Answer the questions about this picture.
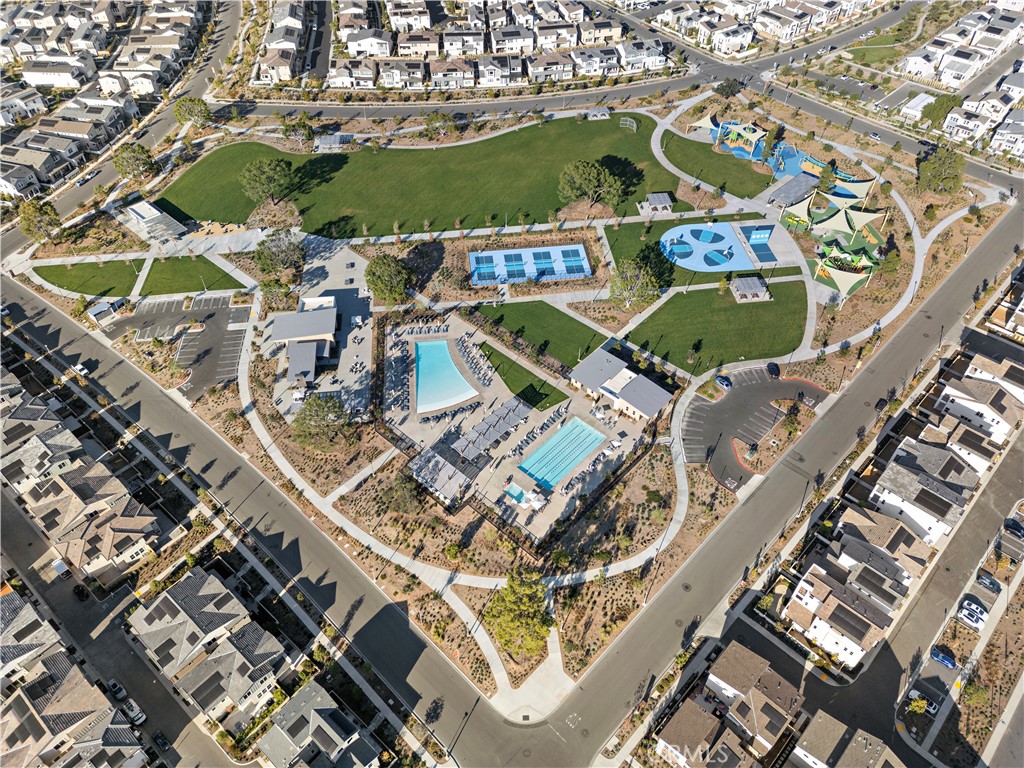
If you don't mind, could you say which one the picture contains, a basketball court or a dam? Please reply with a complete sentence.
Of the two, only a basketball court appears.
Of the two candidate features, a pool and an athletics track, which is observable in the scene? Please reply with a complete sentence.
This aerial view contains a pool.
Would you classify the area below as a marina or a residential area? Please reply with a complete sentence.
This looks like a residential area.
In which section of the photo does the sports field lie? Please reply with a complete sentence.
The sports field is in the top part of the image.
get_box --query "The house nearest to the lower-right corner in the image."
[832,724,898,768]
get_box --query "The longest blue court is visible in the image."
[660,222,756,272]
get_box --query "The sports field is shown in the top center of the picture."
[157,112,695,238]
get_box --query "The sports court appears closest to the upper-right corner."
[740,225,777,262]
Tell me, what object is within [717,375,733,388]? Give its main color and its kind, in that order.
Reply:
blue vehicle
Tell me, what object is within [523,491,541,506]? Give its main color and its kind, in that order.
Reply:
white umbrella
